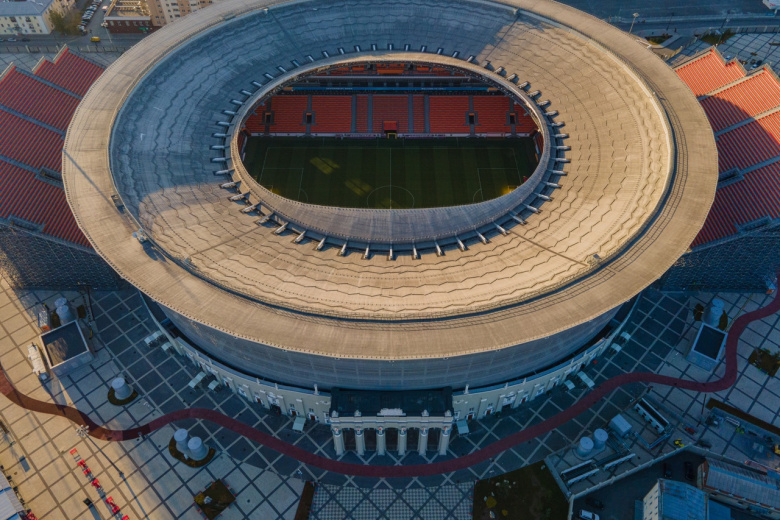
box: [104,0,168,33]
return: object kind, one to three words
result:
building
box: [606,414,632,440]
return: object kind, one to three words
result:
shed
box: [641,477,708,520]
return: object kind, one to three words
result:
house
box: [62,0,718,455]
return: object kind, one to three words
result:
stadium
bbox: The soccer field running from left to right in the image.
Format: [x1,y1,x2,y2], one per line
[245,142,535,252]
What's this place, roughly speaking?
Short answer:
sports ground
